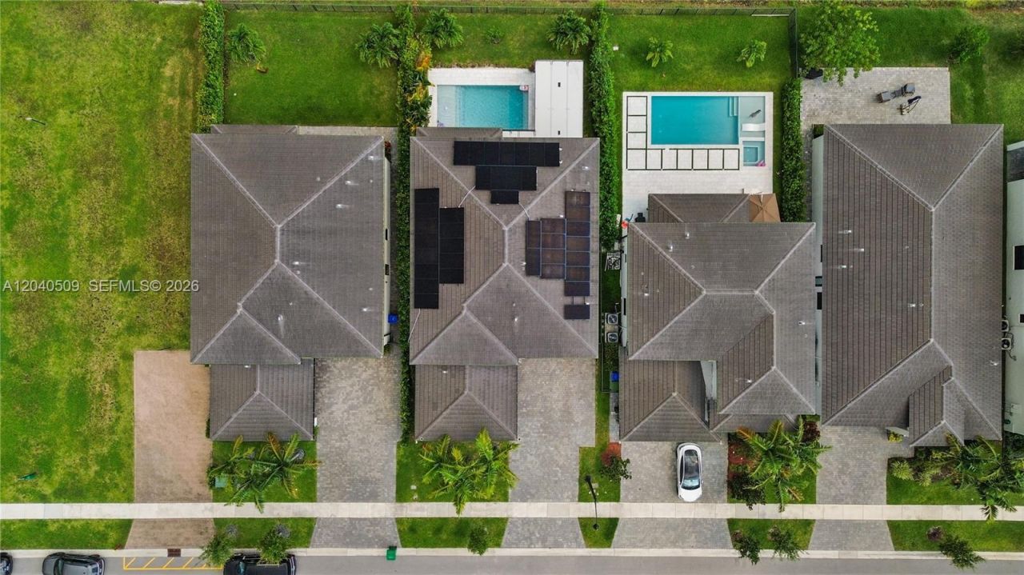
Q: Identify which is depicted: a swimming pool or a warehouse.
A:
swimming pool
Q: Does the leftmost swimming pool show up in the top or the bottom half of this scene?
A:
top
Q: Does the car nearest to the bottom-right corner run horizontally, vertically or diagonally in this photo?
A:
vertically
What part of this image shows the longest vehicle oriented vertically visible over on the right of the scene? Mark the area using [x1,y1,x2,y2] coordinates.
[677,443,707,503]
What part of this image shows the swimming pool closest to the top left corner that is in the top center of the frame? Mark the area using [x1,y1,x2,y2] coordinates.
[433,81,532,131]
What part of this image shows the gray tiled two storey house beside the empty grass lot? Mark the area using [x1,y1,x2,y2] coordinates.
[189,124,398,442]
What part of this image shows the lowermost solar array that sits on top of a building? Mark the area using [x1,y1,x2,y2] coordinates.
[565,305,590,319]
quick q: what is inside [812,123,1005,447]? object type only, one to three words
house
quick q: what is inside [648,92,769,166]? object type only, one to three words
swimming pool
